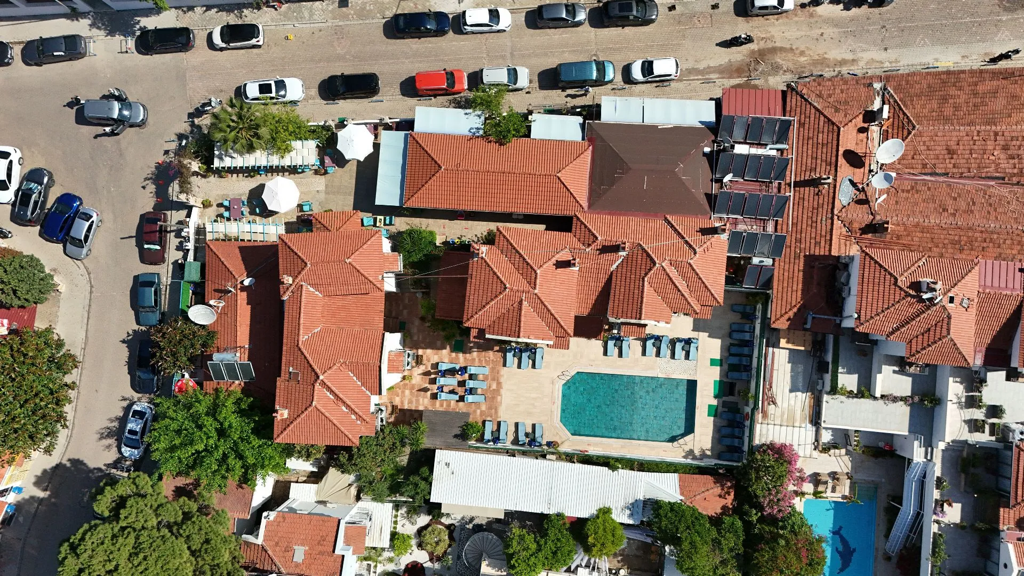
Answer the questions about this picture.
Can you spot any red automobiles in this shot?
Yes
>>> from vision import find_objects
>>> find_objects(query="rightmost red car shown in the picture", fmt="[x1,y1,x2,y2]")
[414,68,467,97]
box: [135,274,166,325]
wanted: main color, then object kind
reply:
blue car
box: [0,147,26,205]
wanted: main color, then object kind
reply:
white car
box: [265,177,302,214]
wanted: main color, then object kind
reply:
white umbrella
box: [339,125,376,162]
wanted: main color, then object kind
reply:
white umbrella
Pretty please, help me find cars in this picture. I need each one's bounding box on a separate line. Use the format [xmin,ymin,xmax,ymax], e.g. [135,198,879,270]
[536,1,585,32]
[628,56,680,85]
[744,0,792,20]
[557,57,614,89]
[66,208,106,260]
[79,88,150,139]
[25,36,91,68]
[135,274,166,325]
[12,168,58,226]
[461,6,510,37]
[414,68,467,97]
[477,65,528,93]
[40,192,87,244]
[132,341,163,392]
[601,0,657,30]
[0,43,20,68]
[395,10,450,42]
[241,76,306,106]
[325,71,380,100]
[121,402,157,458]
[139,27,198,56]
[213,23,266,52]
[0,147,26,205]
[140,213,173,263]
